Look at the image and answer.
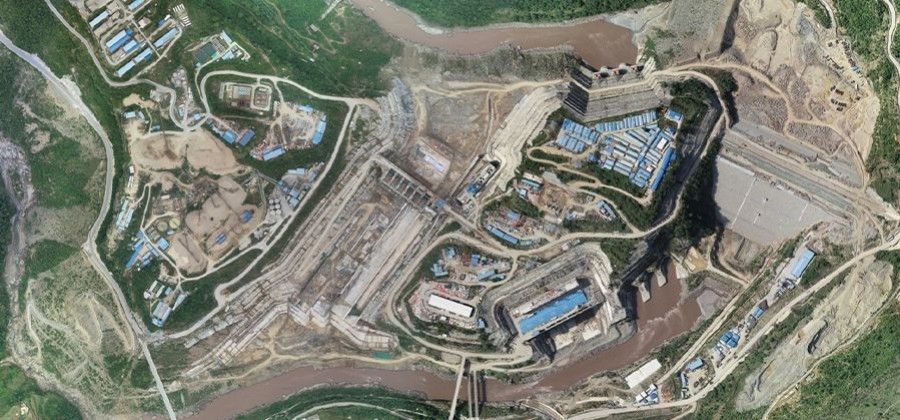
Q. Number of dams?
two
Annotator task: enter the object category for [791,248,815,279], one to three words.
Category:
building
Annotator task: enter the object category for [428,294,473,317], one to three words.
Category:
building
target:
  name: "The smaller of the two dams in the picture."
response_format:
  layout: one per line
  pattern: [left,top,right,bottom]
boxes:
[584,62,660,119]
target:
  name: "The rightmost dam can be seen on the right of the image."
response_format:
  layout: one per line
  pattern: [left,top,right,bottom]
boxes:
[715,155,830,245]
